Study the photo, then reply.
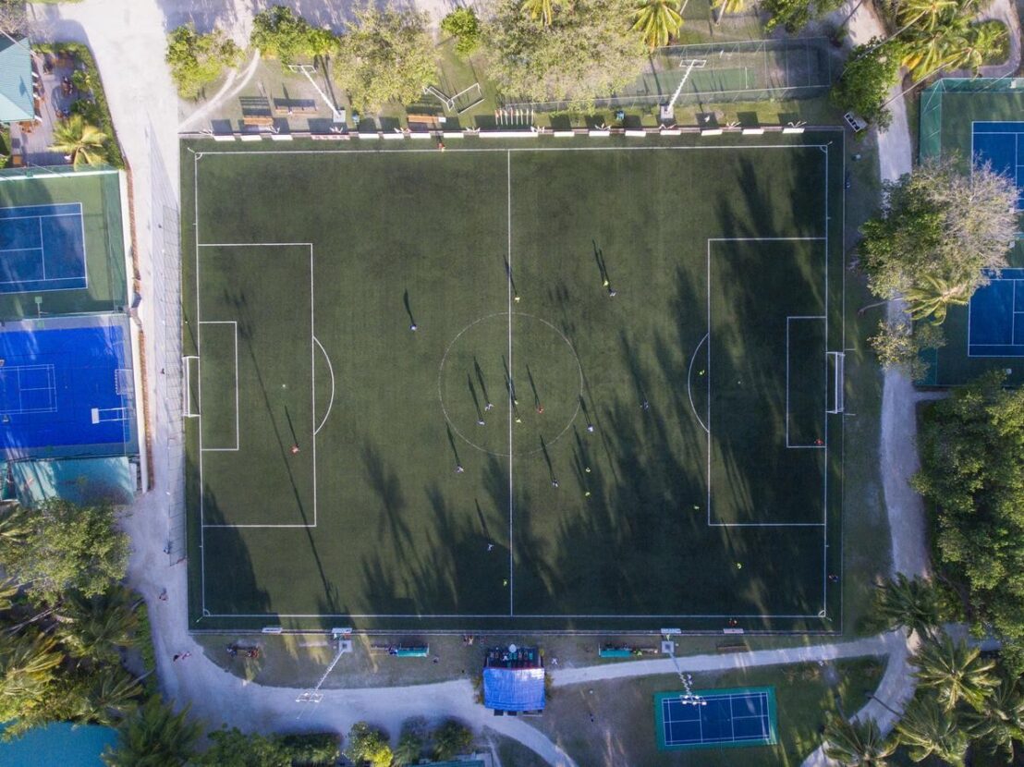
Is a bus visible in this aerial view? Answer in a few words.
No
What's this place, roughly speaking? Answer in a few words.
sports ground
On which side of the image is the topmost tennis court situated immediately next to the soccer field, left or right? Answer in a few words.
right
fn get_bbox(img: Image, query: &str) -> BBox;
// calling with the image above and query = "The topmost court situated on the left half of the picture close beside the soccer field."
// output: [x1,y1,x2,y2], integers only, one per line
[0,170,128,321]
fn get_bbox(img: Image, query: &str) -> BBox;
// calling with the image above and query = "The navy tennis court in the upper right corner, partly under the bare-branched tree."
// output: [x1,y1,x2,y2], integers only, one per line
[922,91,1024,236]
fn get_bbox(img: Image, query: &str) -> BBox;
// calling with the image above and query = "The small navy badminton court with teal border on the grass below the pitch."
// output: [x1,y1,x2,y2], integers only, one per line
[654,686,777,750]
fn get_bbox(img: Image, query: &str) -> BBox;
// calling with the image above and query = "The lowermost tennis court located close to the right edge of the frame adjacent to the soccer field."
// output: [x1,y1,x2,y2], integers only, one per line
[920,237,1024,386]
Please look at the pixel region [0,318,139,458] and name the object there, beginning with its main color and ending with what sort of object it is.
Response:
blue sports court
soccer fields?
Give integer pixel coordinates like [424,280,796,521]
[178,124,845,637]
